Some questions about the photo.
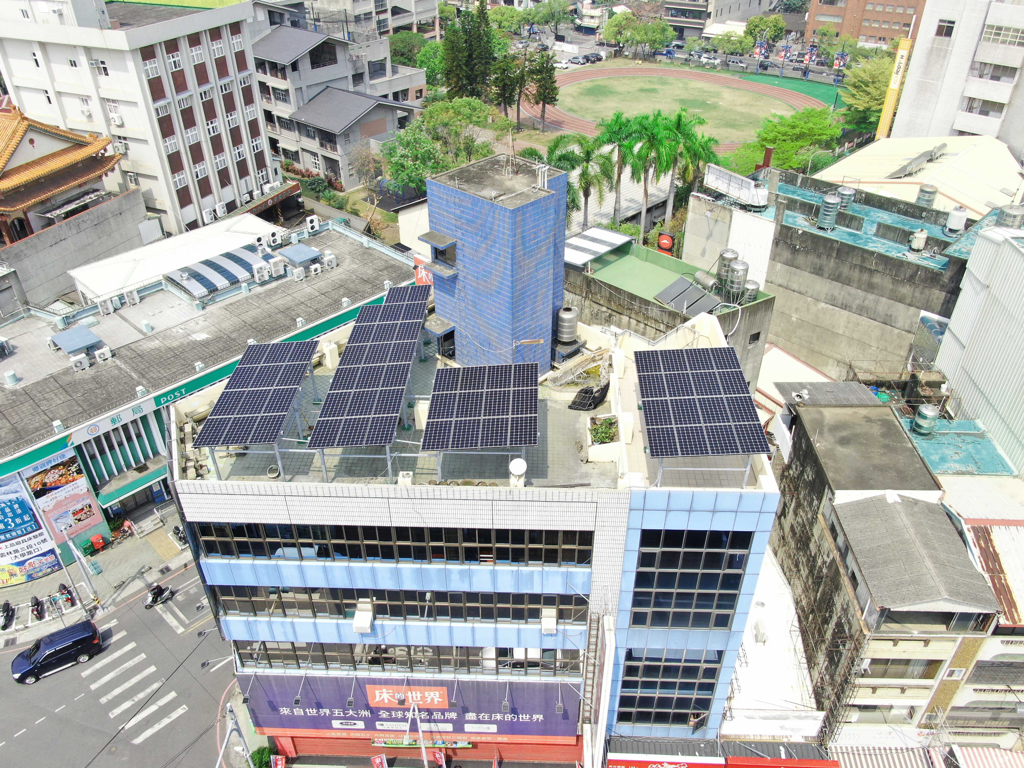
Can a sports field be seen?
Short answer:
Yes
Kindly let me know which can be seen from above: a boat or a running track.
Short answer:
running track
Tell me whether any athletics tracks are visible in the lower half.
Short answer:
No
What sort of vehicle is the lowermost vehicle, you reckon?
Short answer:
car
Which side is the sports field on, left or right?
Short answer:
right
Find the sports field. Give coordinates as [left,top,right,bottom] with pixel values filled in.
[555,75,802,143]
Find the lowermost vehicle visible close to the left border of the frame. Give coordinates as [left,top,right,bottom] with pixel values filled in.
[5,618,100,688]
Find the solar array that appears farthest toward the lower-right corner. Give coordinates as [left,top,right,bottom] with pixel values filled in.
[634,347,769,485]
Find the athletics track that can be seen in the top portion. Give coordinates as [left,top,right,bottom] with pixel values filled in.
[520,68,842,154]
